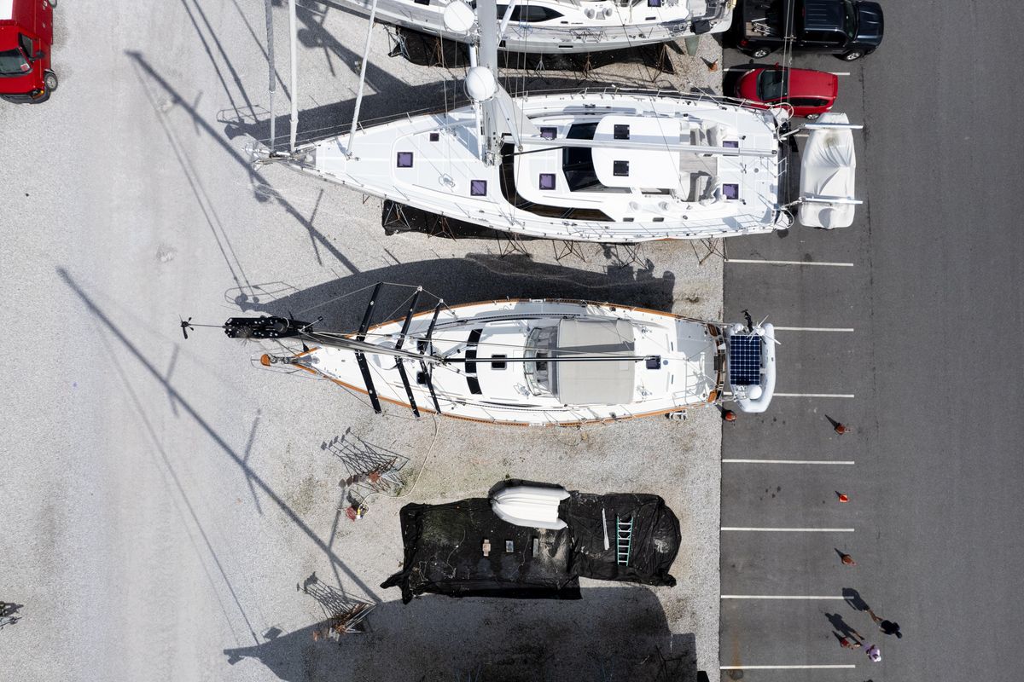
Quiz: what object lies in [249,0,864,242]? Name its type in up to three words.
boat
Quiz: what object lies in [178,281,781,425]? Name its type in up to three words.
boat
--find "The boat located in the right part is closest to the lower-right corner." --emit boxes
[723,309,779,415]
